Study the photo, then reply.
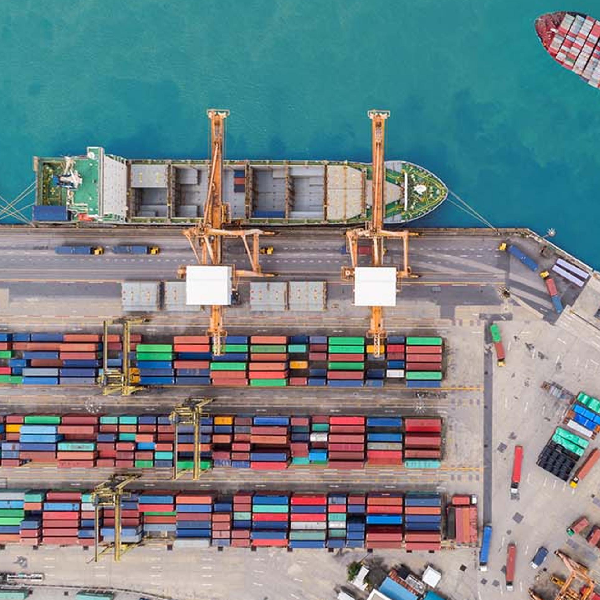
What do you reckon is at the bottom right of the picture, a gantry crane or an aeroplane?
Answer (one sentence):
The one visible at the bottom right of the picture is a gantry crane.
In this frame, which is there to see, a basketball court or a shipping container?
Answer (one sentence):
Visible in the photo is a shipping container.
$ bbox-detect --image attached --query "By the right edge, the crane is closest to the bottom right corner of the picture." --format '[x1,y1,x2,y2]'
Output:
[522,544,600,600]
